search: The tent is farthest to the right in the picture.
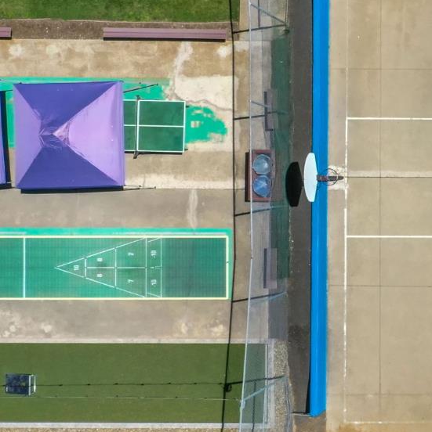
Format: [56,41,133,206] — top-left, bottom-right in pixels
[15,82,162,192]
